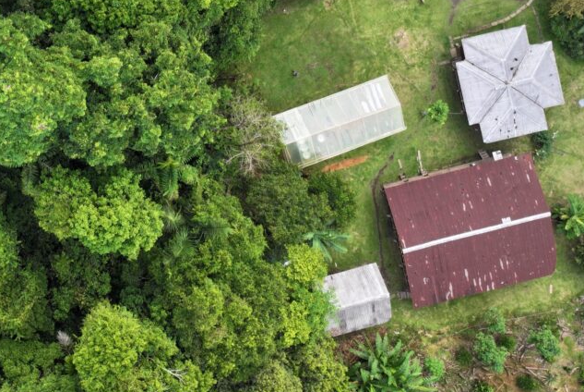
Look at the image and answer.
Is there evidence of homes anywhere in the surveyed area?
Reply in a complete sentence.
Yes, there is a home in the image.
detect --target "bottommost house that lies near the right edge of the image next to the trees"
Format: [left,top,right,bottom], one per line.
[379,153,556,306]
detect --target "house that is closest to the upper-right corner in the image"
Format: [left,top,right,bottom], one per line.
[455,28,567,143]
